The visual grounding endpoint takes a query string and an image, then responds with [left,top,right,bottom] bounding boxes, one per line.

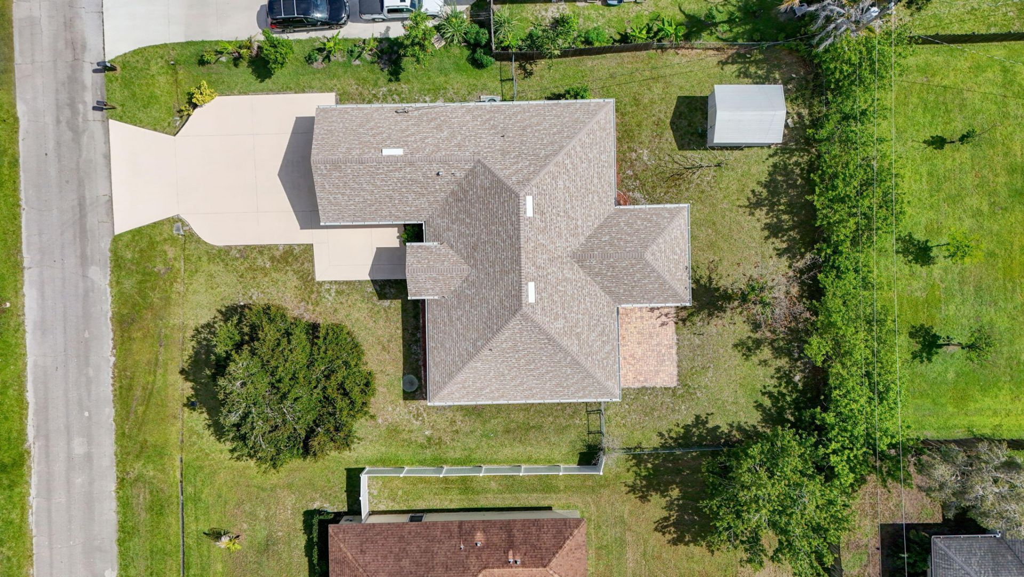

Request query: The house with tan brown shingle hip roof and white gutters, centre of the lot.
[311,97,693,407]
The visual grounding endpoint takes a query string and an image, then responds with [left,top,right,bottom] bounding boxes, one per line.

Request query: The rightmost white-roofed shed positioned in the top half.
[707,85,786,147]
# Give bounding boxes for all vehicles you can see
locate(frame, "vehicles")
[358,0,447,23]
[262,0,349,34]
